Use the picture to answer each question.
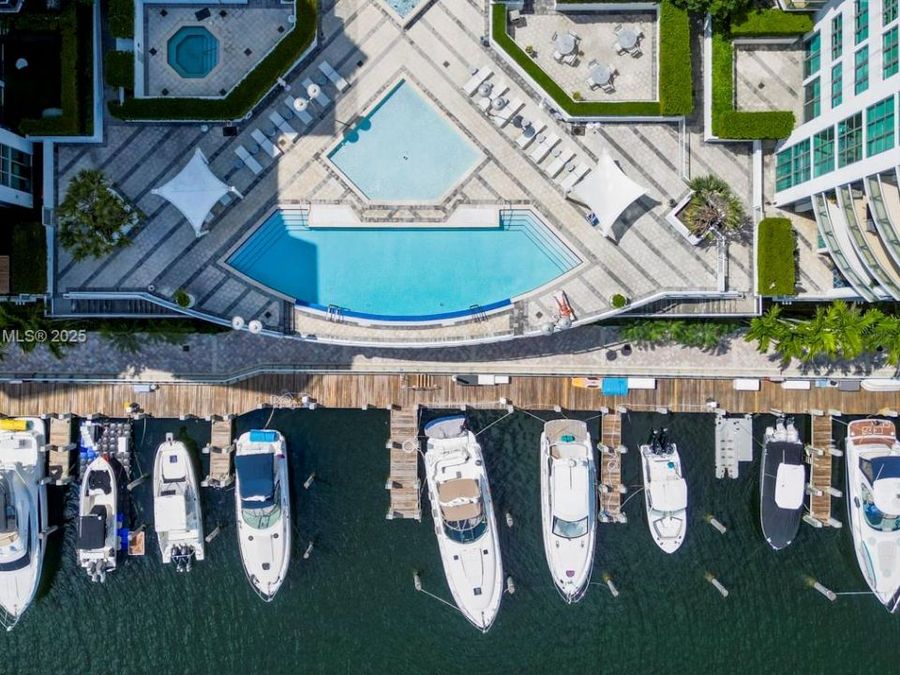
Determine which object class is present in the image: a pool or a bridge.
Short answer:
pool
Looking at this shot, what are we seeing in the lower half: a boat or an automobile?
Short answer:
boat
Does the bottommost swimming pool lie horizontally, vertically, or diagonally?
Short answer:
horizontally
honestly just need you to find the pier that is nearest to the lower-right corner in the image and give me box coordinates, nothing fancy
[809,416,831,524]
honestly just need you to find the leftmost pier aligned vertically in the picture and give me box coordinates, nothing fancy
[49,417,74,478]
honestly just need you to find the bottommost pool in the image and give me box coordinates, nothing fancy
[223,200,587,323]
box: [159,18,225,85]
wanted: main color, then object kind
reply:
blue swimming pool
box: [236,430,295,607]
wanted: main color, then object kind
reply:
white boat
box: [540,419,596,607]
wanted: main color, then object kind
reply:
white boat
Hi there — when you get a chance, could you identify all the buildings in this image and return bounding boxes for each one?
[0,0,87,208]
[776,0,900,319]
